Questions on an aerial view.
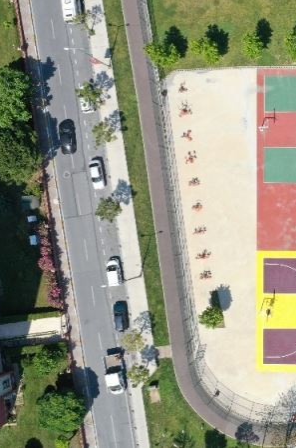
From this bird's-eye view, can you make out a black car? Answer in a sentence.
Yes, the picture does show a black car.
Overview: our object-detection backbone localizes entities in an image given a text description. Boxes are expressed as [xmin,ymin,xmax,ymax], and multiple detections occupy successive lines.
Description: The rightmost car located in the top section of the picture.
[84,156,105,191]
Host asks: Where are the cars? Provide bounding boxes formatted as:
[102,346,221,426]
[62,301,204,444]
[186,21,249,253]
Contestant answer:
[55,116,76,155]
[84,156,105,191]
[109,300,129,335]
[69,80,90,114]
[102,256,122,289]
